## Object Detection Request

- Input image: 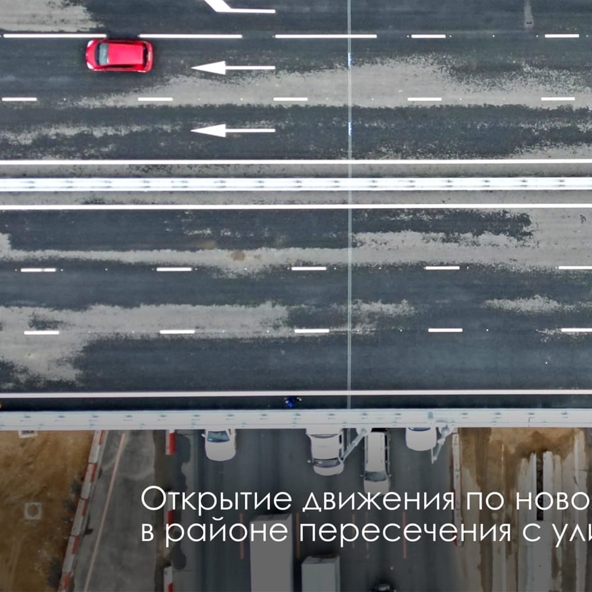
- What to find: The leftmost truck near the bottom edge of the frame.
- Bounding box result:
[251,508,298,592]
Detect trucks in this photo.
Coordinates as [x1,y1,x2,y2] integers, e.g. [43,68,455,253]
[303,549,344,592]
[304,430,341,478]
[251,508,298,592]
